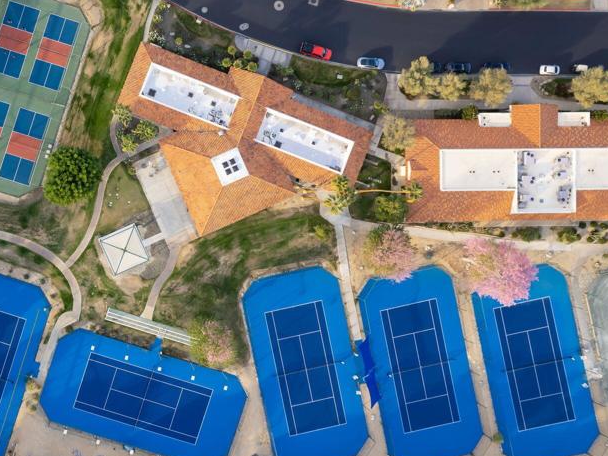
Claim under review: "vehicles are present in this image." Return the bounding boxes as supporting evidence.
[425,60,450,72]
[301,41,332,59]
[359,56,385,69]
[485,59,513,72]
[540,63,563,74]
[575,64,594,72]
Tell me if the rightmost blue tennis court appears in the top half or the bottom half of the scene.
bottom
